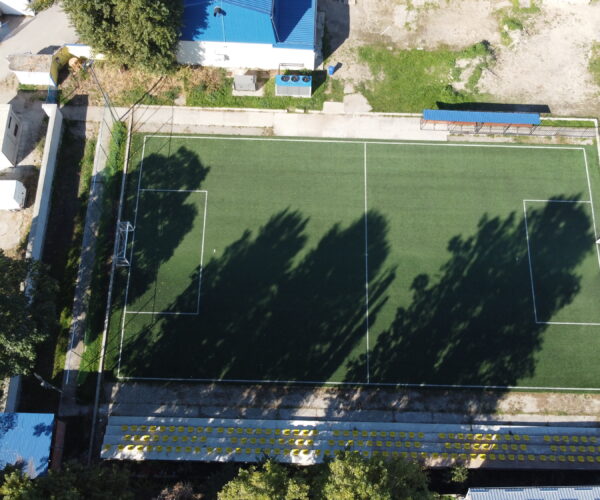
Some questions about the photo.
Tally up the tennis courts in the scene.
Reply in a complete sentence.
The picture shows no tennis courts.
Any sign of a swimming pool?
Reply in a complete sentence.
No, the picture doesn't show any swimming pool.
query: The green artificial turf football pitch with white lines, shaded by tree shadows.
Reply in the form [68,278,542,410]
[102,133,600,397]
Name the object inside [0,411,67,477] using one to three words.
shed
